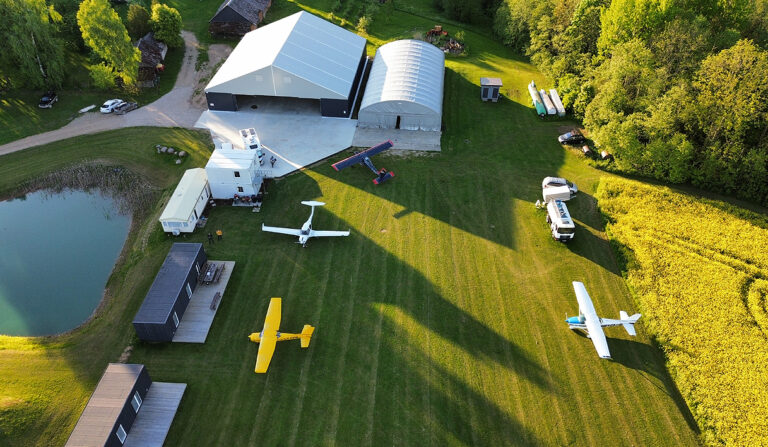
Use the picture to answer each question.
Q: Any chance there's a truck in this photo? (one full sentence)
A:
Yes, the image includes a truck.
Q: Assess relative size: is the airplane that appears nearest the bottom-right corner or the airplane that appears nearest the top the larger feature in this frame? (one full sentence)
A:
Of the two, the airplane that appears nearest the bottom-right corner is bigger, while the airplane that appears nearest the top is smaller.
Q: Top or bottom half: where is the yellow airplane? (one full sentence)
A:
You can find the yellow airplane in the bottom half.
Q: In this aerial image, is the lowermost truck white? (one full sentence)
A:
Yes, the lowermost truck is indeed white.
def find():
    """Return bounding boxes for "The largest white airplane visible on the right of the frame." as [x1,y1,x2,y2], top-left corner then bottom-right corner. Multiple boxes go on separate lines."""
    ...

[565,283,643,357]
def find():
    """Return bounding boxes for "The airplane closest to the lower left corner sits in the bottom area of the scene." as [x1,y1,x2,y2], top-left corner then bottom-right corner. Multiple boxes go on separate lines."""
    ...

[248,298,316,372]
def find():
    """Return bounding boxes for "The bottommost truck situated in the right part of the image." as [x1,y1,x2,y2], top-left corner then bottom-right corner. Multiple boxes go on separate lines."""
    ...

[544,198,578,246]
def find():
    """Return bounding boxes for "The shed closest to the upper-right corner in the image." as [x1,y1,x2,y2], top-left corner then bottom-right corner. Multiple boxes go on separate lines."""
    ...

[478,79,502,100]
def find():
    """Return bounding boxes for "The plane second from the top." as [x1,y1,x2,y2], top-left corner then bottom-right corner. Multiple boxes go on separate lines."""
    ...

[262,200,351,245]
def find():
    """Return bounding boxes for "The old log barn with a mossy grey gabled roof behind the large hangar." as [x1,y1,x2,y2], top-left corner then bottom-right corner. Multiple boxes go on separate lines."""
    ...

[206,0,272,38]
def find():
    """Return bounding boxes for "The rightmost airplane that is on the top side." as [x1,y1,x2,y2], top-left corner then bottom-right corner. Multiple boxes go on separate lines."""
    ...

[330,141,397,182]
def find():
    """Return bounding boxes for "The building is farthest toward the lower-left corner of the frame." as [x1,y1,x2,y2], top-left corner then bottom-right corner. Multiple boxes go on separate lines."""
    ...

[66,363,184,447]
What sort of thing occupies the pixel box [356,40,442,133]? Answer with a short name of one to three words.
hangar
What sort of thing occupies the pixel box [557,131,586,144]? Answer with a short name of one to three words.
vehicle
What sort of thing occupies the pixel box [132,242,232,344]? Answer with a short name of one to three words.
building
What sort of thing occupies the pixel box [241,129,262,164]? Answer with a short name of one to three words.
camper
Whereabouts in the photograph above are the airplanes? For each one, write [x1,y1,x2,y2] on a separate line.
[565,283,643,357]
[248,298,316,372]
[262,200,351,245]
[330,141,397,182]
